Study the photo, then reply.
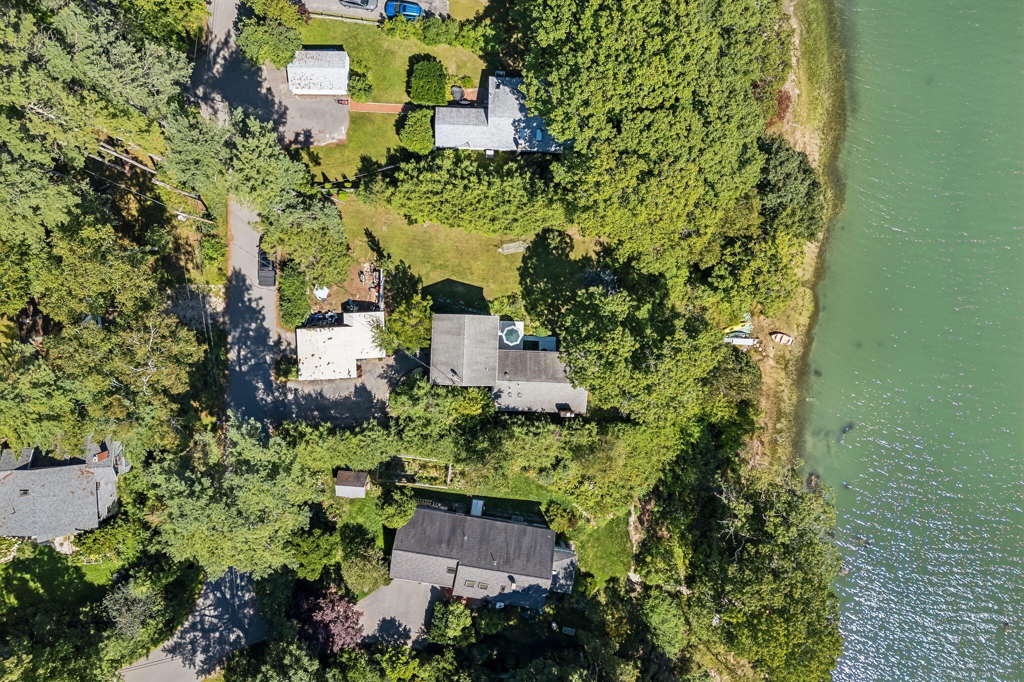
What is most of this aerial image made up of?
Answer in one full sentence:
Most of the picture is covered by trees.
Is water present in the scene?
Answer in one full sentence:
Yes, there is water in the image.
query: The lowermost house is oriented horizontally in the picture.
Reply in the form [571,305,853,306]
[389,504,577,610]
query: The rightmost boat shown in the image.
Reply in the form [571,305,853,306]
[773,334,797,347]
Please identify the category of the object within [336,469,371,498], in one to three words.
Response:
shed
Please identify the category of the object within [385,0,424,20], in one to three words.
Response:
car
